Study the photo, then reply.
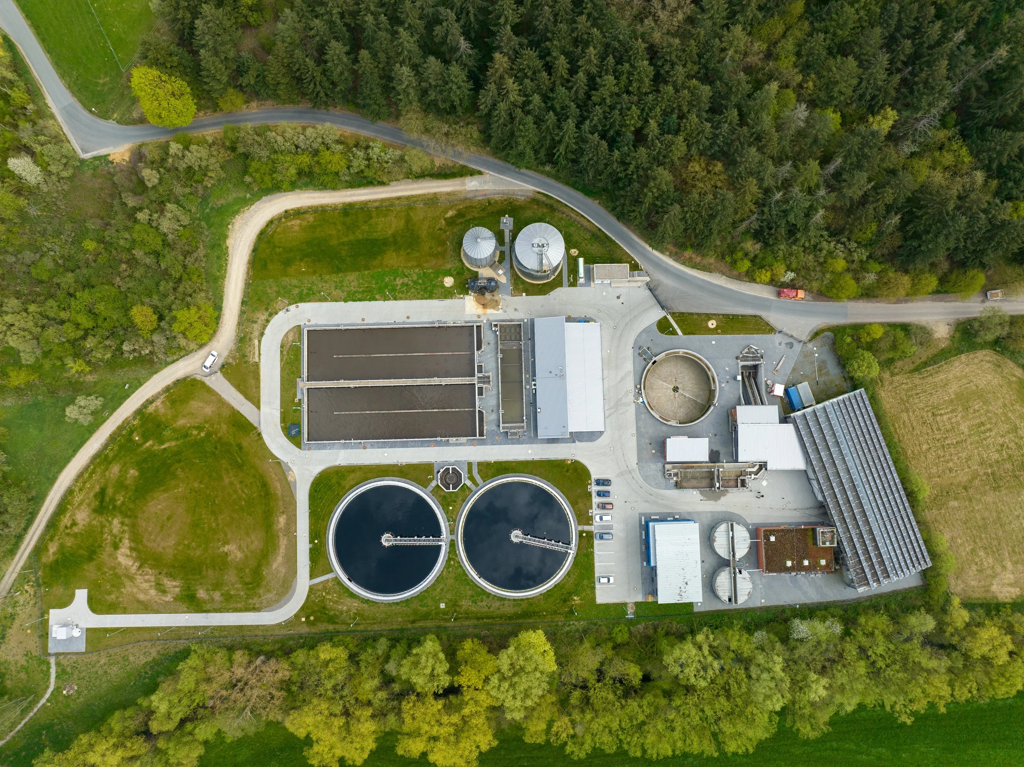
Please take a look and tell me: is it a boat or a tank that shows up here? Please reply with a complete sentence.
It is a tank that can be seen here.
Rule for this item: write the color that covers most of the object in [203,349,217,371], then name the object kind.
white vehicle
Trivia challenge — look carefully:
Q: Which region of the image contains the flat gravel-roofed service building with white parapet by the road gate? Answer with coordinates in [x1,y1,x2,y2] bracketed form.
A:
[593,264,629,284]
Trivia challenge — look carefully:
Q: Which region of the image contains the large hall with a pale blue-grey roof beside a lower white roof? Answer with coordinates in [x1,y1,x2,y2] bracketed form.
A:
[535,316,607,438]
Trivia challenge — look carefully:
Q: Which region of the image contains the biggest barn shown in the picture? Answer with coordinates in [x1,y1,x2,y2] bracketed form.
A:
[787,389,931,592]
